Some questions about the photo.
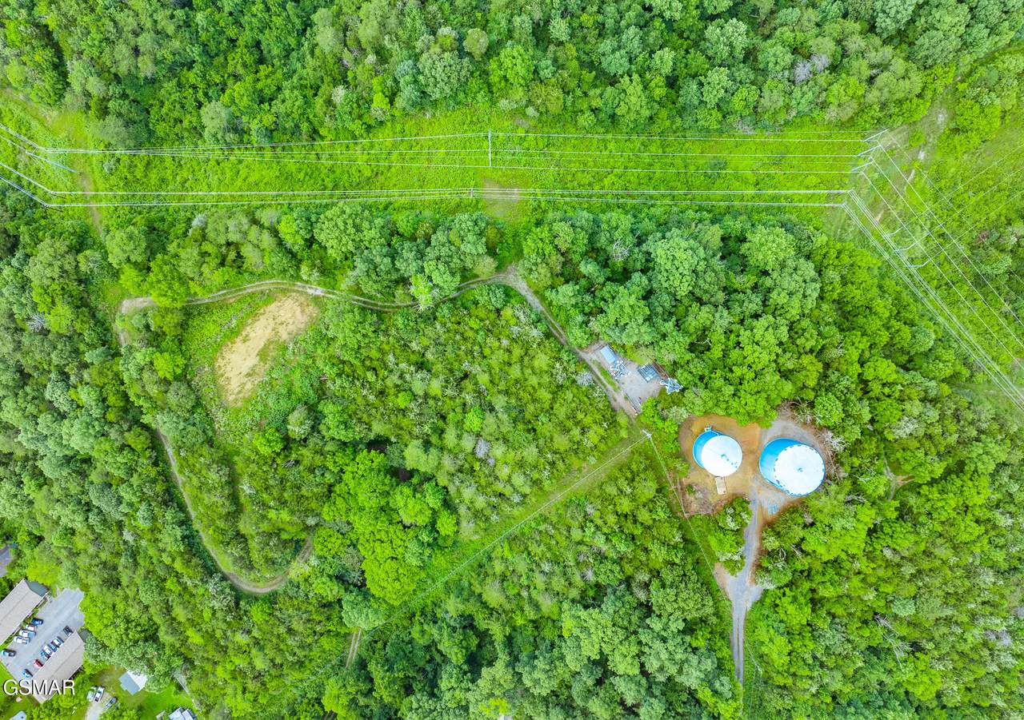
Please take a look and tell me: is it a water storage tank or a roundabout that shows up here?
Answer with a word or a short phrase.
water storage tank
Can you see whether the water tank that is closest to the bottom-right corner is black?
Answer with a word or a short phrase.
No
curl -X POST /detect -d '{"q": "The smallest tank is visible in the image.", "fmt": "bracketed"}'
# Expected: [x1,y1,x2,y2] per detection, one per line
[693,429,742,476]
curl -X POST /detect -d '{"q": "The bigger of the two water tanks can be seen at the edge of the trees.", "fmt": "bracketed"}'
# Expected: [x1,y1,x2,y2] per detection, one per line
[760,438,826,495]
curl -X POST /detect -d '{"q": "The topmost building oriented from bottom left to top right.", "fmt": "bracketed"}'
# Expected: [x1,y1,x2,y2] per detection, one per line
[0,578,52,648]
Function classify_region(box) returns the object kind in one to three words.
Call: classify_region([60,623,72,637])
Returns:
vehicle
